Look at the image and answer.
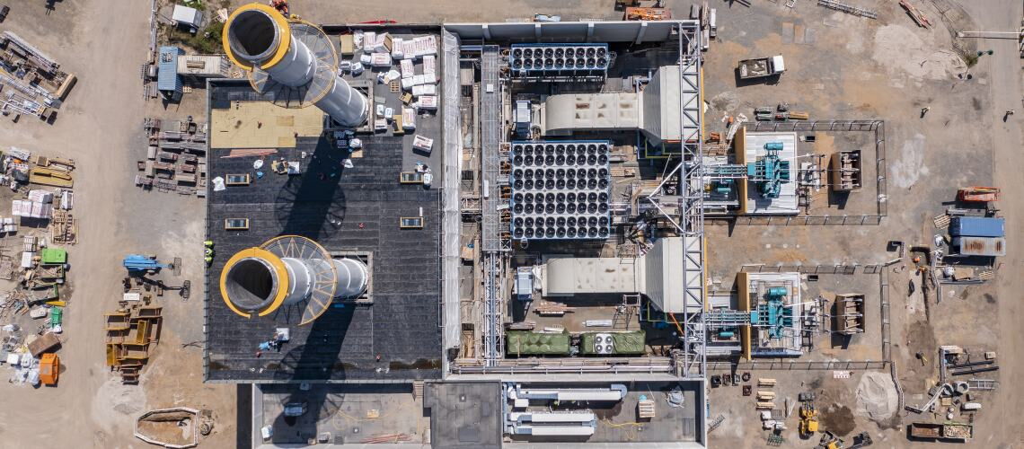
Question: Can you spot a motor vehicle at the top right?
Yes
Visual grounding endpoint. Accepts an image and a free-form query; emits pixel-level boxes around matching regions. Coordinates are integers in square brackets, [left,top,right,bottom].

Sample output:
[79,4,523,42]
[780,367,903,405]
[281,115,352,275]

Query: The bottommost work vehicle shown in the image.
[815,425,846,449]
